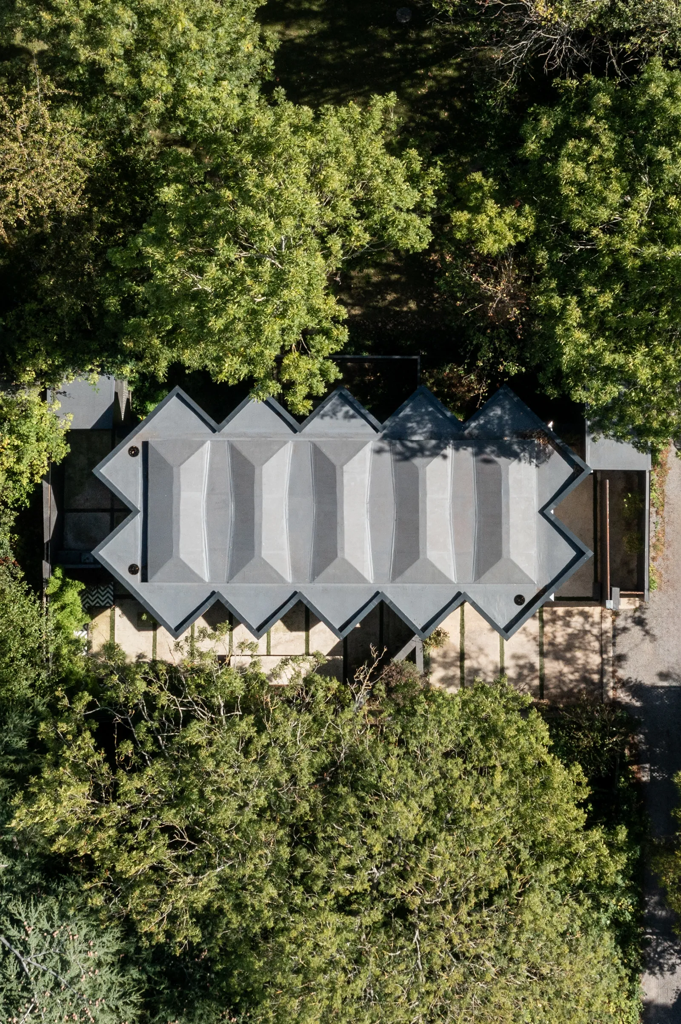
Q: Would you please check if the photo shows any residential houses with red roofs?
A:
No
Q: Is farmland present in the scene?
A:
No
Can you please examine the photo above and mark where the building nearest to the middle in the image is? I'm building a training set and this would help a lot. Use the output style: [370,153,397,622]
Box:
[91,385,593,640]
